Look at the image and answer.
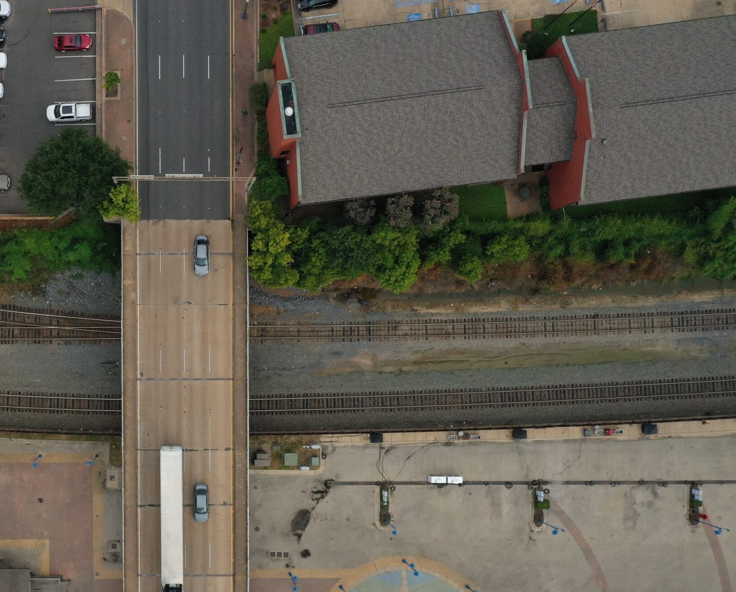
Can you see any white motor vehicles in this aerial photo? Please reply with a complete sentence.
Yes, you can see a white motor vehicle in this photo.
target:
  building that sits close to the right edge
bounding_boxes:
[544,15,736,211]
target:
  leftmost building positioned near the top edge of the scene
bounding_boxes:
[265,10,536,210]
